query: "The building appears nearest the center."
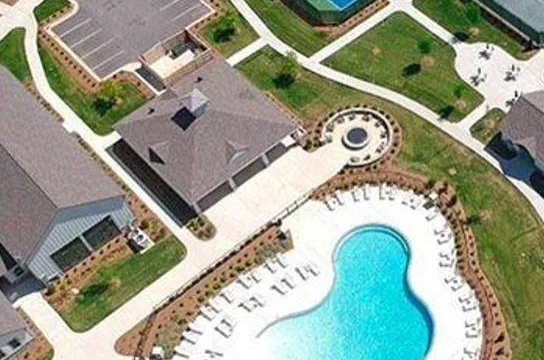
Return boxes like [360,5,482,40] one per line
[112,54,307,218]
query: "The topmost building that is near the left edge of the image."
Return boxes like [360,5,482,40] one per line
[0,64,138,308]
